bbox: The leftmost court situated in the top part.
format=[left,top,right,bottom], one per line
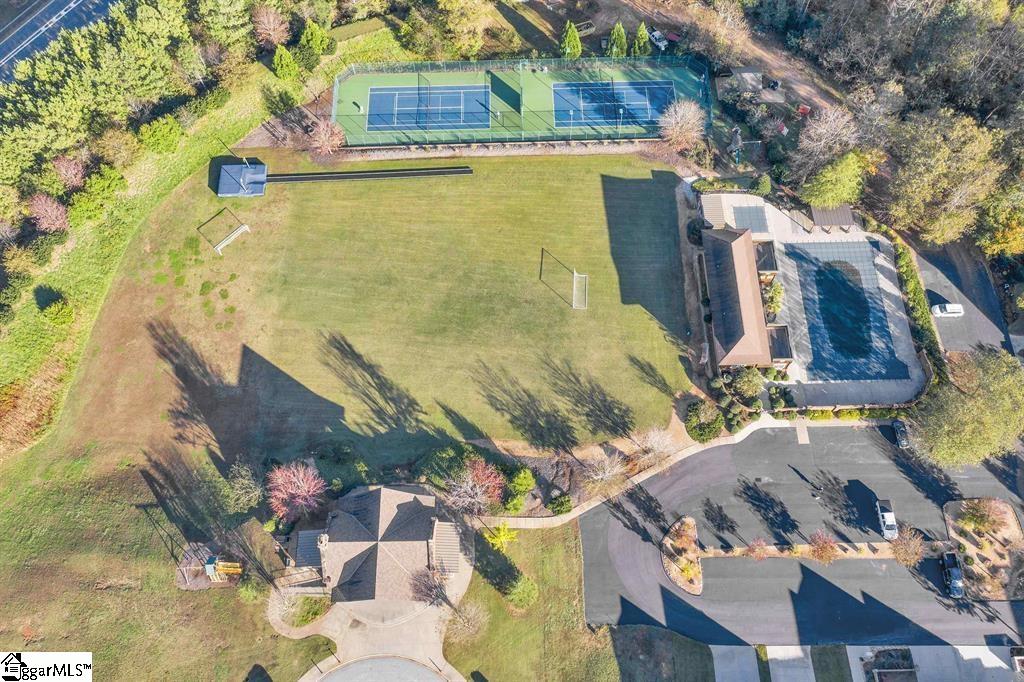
[332,71,522,147]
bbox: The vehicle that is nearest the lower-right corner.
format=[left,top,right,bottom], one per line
[943,554,968,600]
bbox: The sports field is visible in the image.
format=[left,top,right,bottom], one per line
[62,148,691,448]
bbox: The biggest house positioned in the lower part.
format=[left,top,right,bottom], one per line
[288,483,461,607]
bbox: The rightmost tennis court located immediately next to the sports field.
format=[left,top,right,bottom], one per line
[522,67,712,141]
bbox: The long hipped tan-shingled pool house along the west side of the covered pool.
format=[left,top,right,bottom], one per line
[698,196,793,370]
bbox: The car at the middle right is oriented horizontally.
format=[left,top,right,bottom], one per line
[929,302,970,318]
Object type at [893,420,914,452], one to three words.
car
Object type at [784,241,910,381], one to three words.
swimming pool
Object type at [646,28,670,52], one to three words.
truck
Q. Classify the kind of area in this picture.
sports ground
